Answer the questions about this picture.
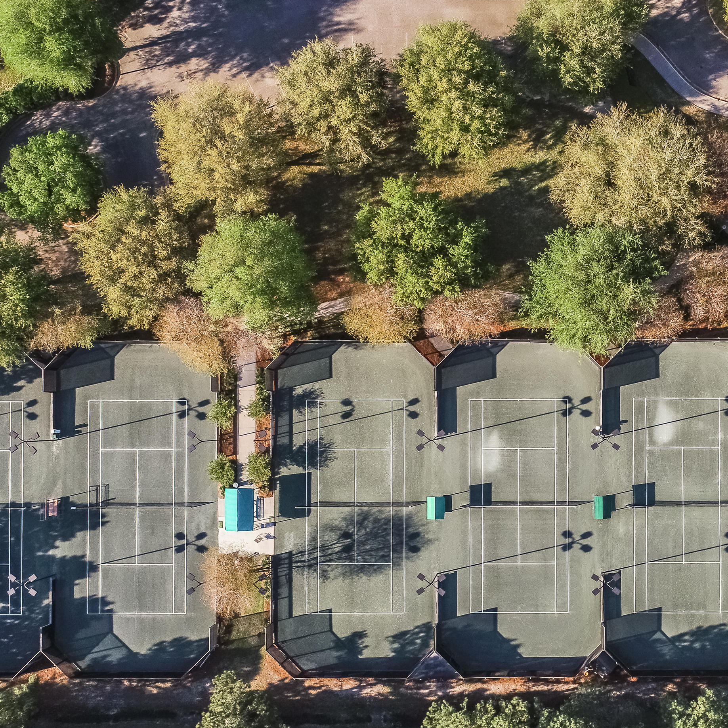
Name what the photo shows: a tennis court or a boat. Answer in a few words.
tennis court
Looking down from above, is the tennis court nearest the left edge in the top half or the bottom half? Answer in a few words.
bottom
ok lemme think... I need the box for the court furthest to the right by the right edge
[601,343,728,672]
